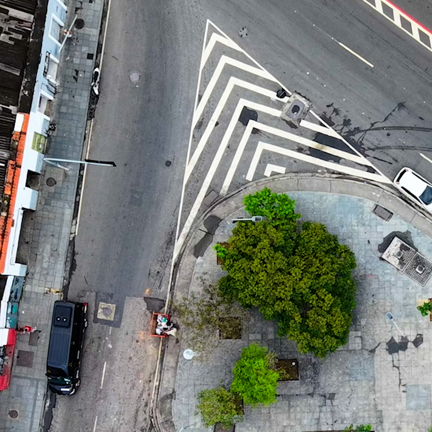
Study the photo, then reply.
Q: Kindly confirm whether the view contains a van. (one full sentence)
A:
Yes, a van is visible in the scene.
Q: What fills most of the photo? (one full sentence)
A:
What you mostly see from above here is paved ground.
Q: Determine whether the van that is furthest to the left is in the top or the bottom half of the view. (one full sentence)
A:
The van that is furthest to the left is in the bottom half of the image.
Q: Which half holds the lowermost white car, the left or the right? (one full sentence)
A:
The lowermost white car is on the right side of the image.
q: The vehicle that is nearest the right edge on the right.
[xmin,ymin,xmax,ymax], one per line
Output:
[392,165,432,213]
